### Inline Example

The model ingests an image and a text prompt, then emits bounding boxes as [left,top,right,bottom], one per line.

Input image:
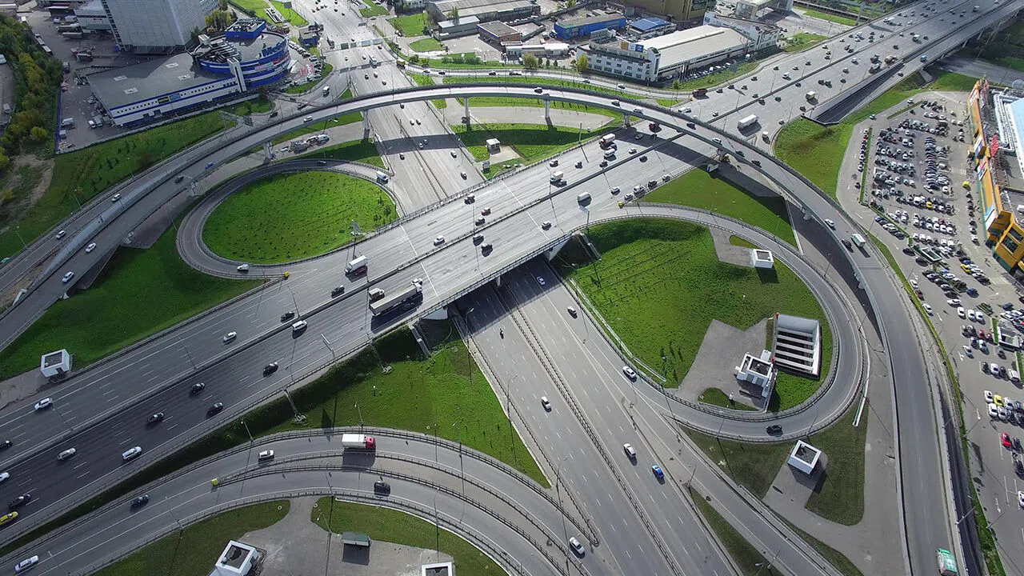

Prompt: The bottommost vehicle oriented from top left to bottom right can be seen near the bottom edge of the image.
[569,538,585,555]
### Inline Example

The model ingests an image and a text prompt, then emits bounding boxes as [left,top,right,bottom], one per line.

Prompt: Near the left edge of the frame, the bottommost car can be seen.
[15,556,37,573]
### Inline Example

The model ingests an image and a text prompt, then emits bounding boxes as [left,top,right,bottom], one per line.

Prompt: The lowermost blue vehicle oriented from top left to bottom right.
[651,465,664,480]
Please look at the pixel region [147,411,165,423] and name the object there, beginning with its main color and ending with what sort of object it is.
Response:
black vehicle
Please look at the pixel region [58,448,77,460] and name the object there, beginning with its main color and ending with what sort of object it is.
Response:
gray vehicle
